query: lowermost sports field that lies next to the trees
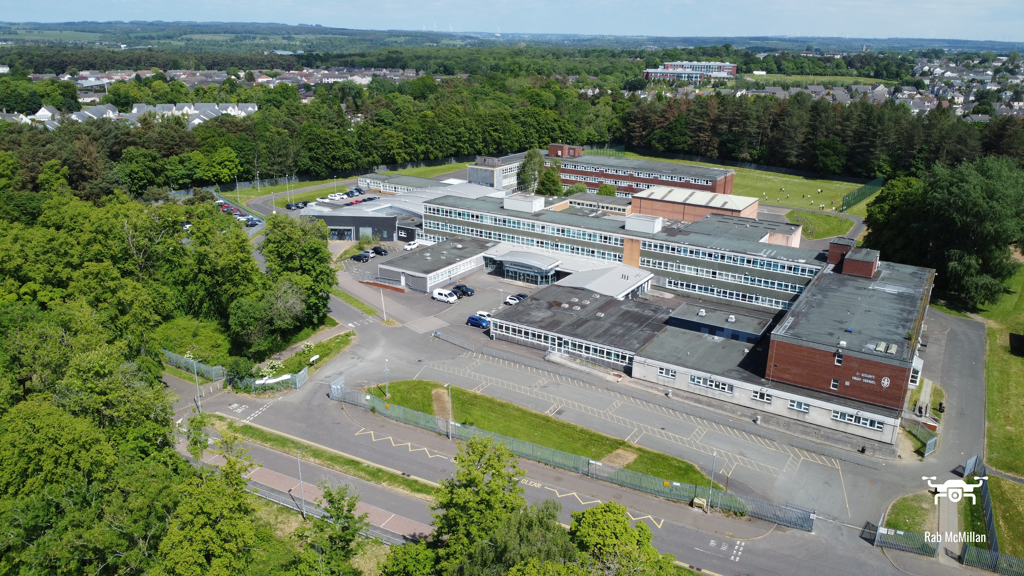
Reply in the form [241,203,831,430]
[587,147,921,238]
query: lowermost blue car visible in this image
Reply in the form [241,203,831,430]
[467,313,490,327]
